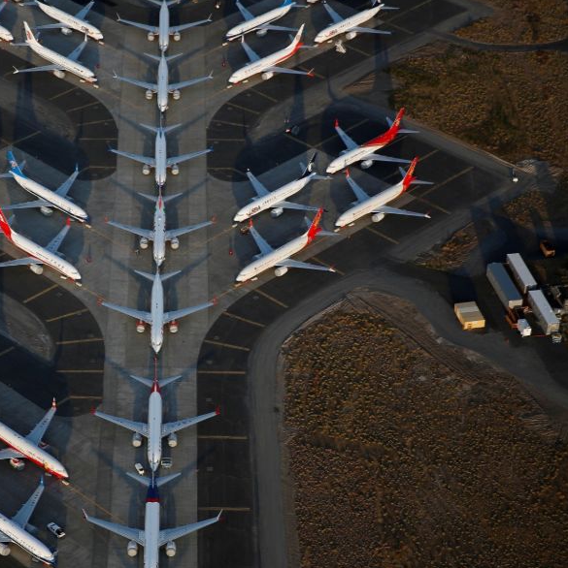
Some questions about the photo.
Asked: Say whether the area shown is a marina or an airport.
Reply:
airport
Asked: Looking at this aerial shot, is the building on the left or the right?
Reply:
right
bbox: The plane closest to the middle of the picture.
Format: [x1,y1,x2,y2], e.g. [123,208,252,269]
[237,208,338,284]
